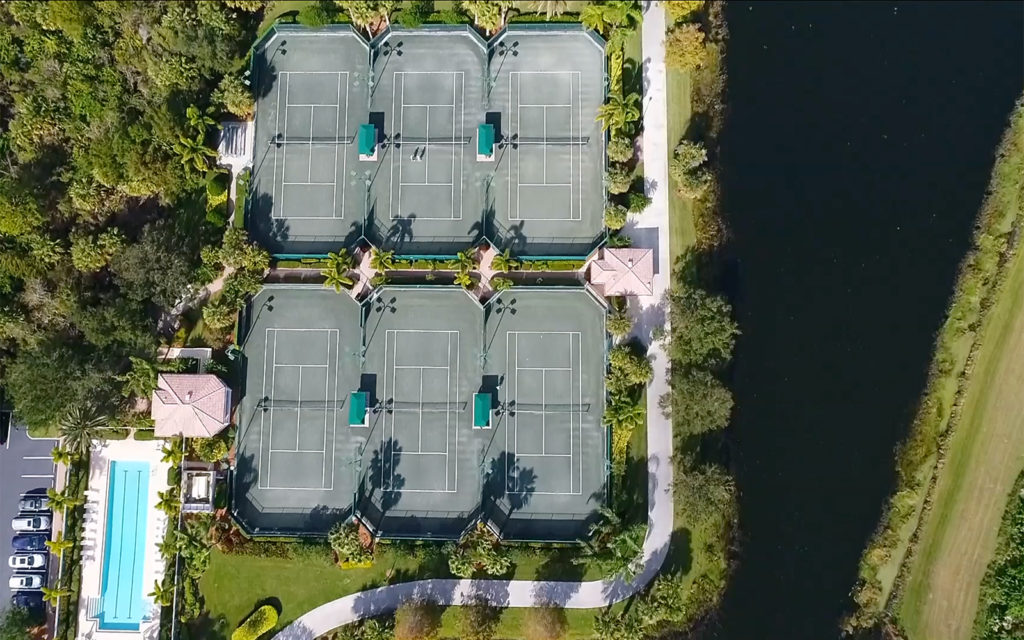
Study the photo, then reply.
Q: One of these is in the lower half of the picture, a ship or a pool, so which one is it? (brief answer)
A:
pool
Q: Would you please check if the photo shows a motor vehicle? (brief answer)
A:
Yes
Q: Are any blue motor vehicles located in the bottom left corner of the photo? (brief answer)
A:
Yes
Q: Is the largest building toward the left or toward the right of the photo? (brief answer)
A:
left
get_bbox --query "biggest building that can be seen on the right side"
[590,248,654,296]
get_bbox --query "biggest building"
[151,374,234,437]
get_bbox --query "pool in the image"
[82,459,155,634]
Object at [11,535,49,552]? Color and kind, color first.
blue car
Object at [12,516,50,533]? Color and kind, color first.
white car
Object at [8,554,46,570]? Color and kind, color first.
white car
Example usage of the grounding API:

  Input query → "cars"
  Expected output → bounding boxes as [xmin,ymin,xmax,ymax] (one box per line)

[8,554,46,570]
[11,535,49,552]
[16,498,51,514]
[12,516,50,533]
[8,592,45,606]
[7,574,43,590]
